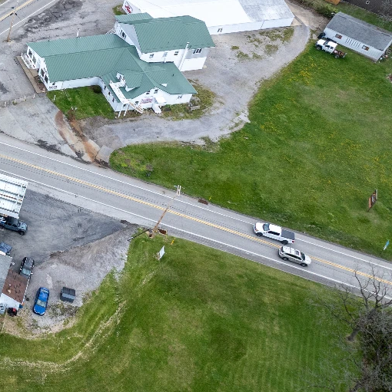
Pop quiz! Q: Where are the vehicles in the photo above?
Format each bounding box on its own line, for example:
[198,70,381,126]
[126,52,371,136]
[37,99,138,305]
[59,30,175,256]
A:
[33,284,52,315]
[18,249,36,278]
[253,222,297,246]
[278,242,315,267]
[315,41,350,56]
[0,216,29,233]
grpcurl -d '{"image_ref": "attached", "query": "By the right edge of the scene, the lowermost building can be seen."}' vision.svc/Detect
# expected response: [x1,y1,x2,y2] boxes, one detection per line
[320,12,392,59]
